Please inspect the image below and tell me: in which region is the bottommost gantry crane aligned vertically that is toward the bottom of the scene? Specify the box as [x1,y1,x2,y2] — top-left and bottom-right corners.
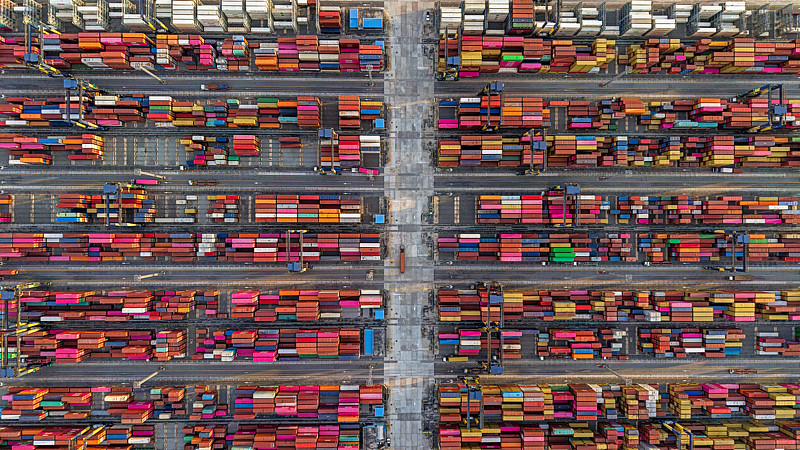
[459,375,484,429]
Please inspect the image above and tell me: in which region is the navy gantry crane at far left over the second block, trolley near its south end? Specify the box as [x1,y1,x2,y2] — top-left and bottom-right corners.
[23,20,66,76]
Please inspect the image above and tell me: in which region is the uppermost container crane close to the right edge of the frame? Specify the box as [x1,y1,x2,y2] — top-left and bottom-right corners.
[741,84,784,134]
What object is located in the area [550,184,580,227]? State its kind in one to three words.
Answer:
container crane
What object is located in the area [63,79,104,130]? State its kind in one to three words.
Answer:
container crane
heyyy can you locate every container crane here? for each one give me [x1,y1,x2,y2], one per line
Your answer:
[23,20,66,76]
[1,324,46,376]
[459,375,484,429]
[550,184,580,227]
[479,280,504,328]
[479,321,505,375]
[659,414,695,450]
[287,227,311,271]
[63,79,104,130]
[708,227,749,270]
[532,0,562,39]
[2,281,47,330]
[478,82,504,133]
[519,127,548,174]
[741,84,784,134]
[103,182,141,227]
[138,0,173,34]
[438,24,462,79]
[317,125,340,173]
